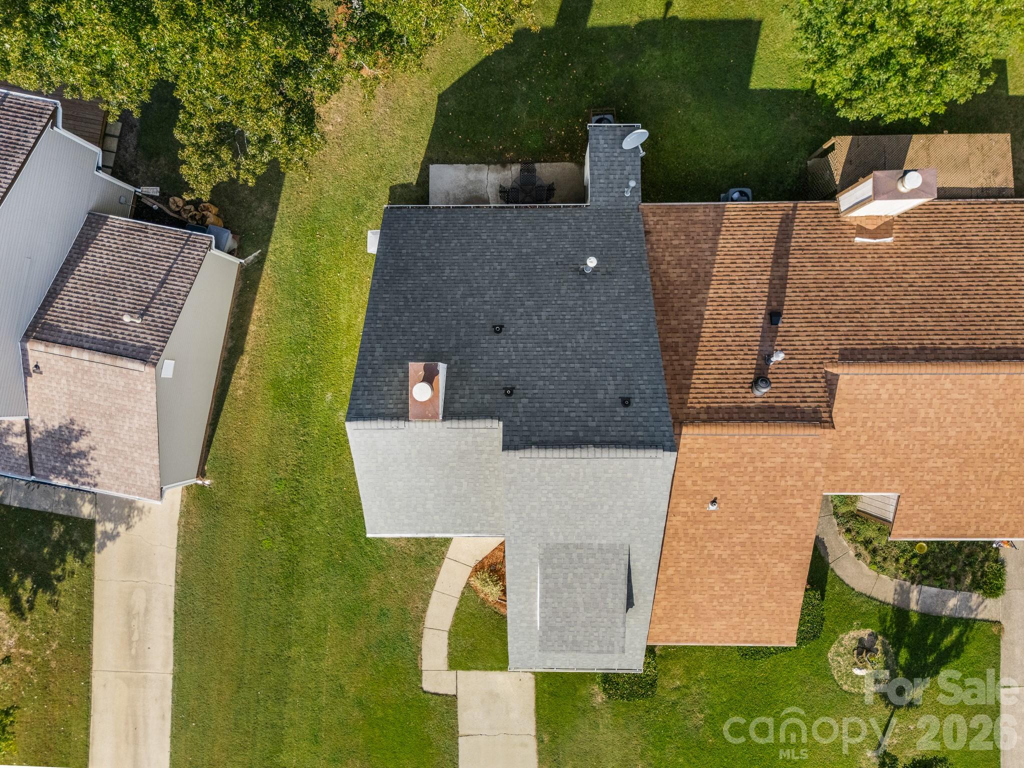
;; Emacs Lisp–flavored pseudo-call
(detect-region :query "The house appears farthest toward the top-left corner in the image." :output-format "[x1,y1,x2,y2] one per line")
[0,93,248,505]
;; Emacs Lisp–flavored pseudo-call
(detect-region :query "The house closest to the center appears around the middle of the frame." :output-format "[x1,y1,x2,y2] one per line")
[347,125,678,673]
